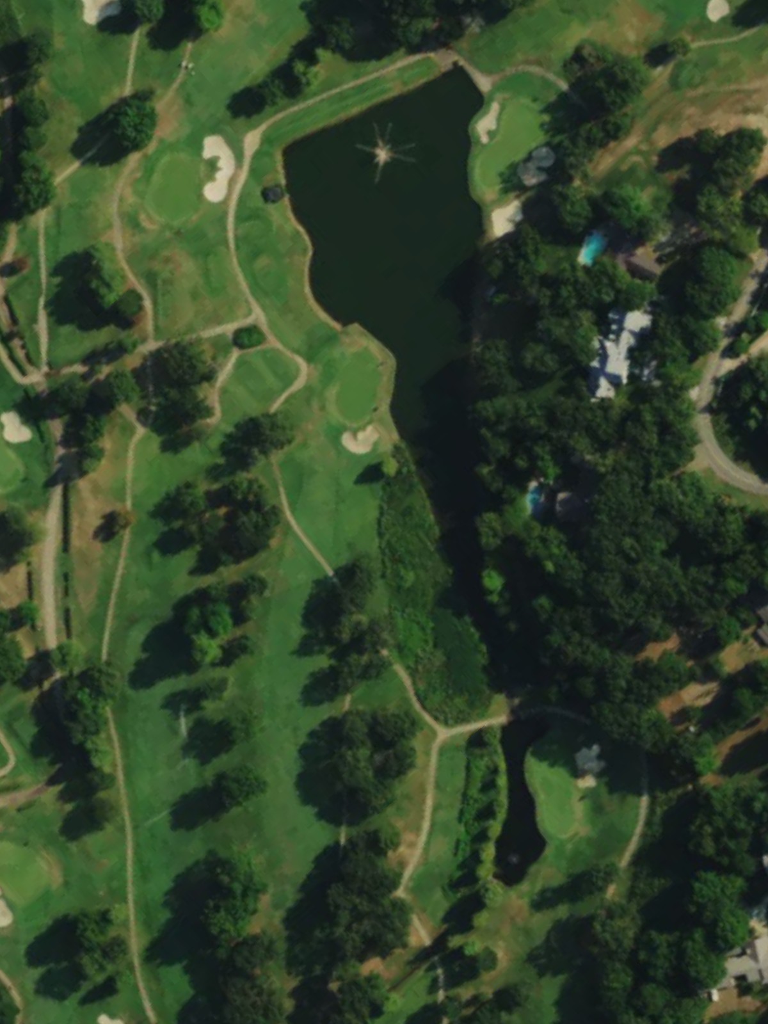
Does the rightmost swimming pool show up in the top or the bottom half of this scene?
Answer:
top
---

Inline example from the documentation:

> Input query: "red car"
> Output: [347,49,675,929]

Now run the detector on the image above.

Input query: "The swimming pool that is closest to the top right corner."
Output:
[581,231,607,263]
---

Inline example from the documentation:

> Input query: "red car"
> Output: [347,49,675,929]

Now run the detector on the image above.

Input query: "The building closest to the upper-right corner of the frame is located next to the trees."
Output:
[616,245,664,282]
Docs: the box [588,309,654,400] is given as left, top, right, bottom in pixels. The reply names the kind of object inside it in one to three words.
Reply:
house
